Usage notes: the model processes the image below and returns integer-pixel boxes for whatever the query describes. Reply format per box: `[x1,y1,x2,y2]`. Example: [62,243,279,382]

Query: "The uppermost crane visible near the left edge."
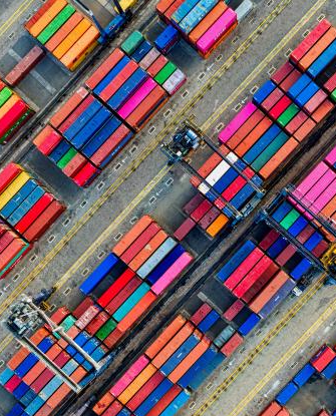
[0,284,121,392]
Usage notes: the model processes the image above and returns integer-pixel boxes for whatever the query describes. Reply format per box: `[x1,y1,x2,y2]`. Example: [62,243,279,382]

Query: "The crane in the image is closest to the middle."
[163,120,265,225]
